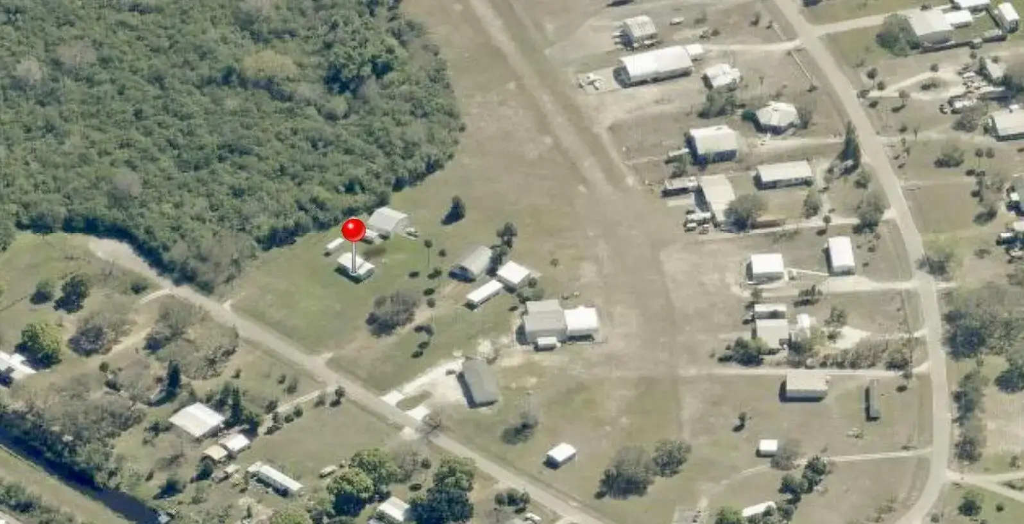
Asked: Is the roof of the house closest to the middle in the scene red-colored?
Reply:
No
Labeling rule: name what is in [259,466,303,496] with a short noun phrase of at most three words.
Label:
house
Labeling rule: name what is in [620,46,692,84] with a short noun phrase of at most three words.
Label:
hangar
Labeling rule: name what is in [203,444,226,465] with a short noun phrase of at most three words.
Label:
shed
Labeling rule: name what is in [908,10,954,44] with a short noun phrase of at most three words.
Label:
building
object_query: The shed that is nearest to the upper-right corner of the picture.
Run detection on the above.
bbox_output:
[995,4,1018,30]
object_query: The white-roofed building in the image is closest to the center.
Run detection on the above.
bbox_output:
[497,262,532,291]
